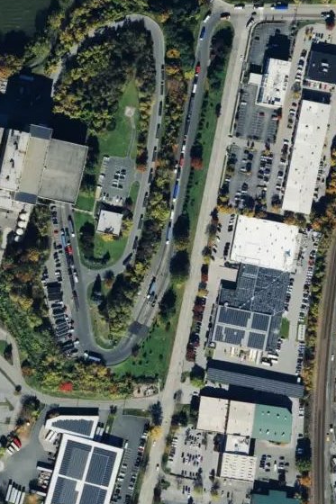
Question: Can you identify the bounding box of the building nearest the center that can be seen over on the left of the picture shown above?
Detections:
[97,211,123,236]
